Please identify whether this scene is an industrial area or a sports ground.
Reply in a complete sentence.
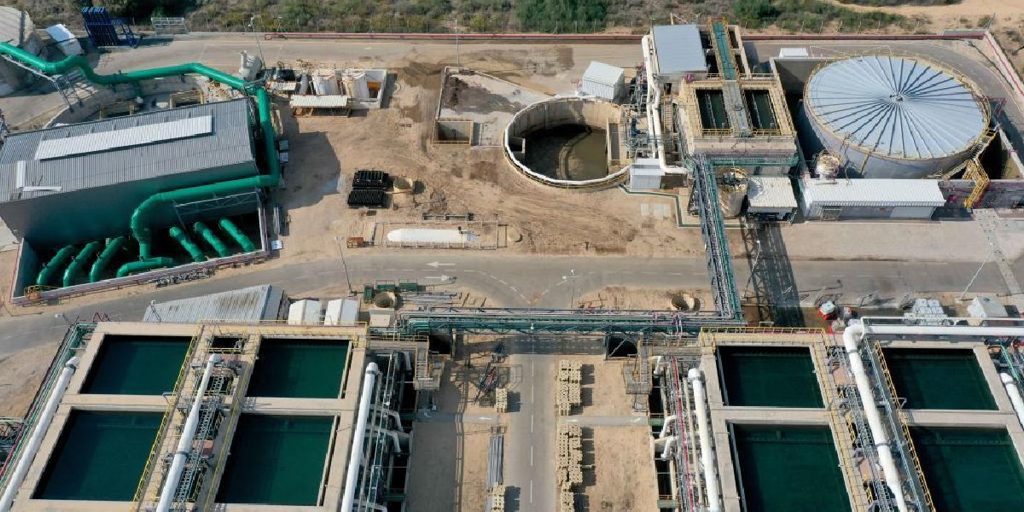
What you see here is an industrial area.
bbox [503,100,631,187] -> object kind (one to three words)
storage tank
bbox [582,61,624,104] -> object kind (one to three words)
shed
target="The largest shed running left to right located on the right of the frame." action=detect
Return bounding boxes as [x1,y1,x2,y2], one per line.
[796,181,944,224]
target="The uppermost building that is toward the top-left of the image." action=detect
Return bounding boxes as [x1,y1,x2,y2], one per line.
[44,23,81,56]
